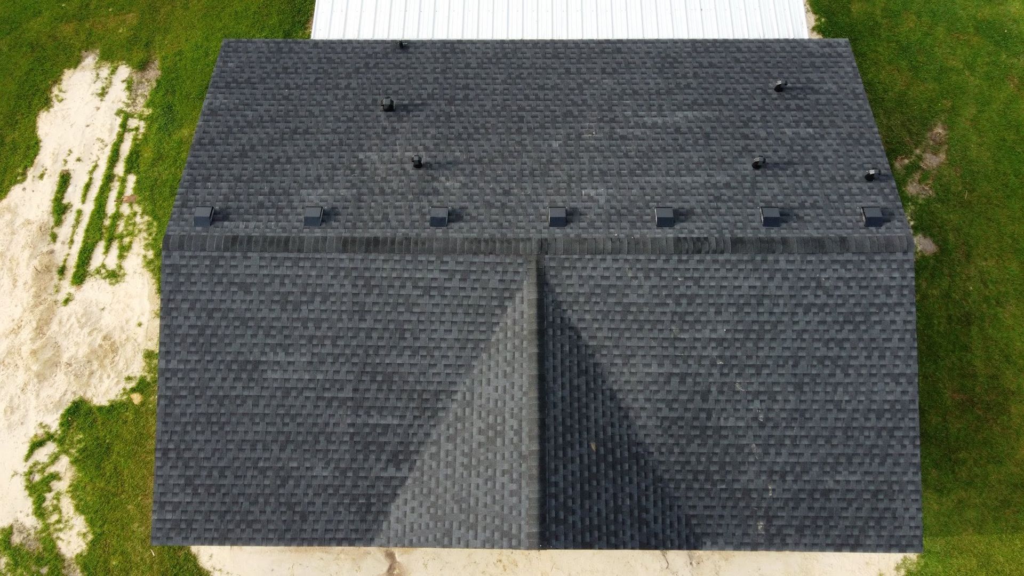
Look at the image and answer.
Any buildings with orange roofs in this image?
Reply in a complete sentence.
No, there's no building with an orange roof here.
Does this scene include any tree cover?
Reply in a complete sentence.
No, there's no tree cover in this view.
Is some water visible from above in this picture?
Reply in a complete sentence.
No, the scene doesn't show any water.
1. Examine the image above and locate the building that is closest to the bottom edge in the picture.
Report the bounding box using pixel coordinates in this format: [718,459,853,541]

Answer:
[151,37,924,554]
